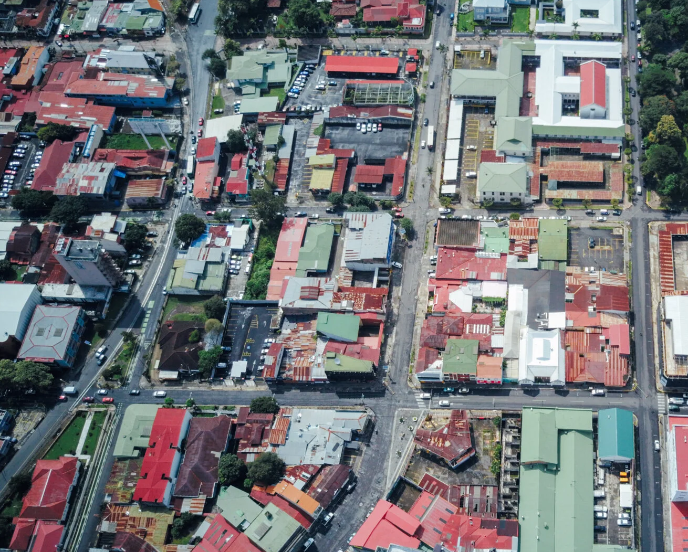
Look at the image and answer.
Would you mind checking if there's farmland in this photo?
No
